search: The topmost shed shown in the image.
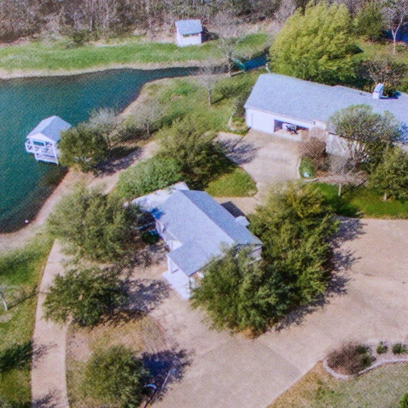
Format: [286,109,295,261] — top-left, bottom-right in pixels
[176,23,205,47]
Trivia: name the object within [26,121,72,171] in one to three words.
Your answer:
building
